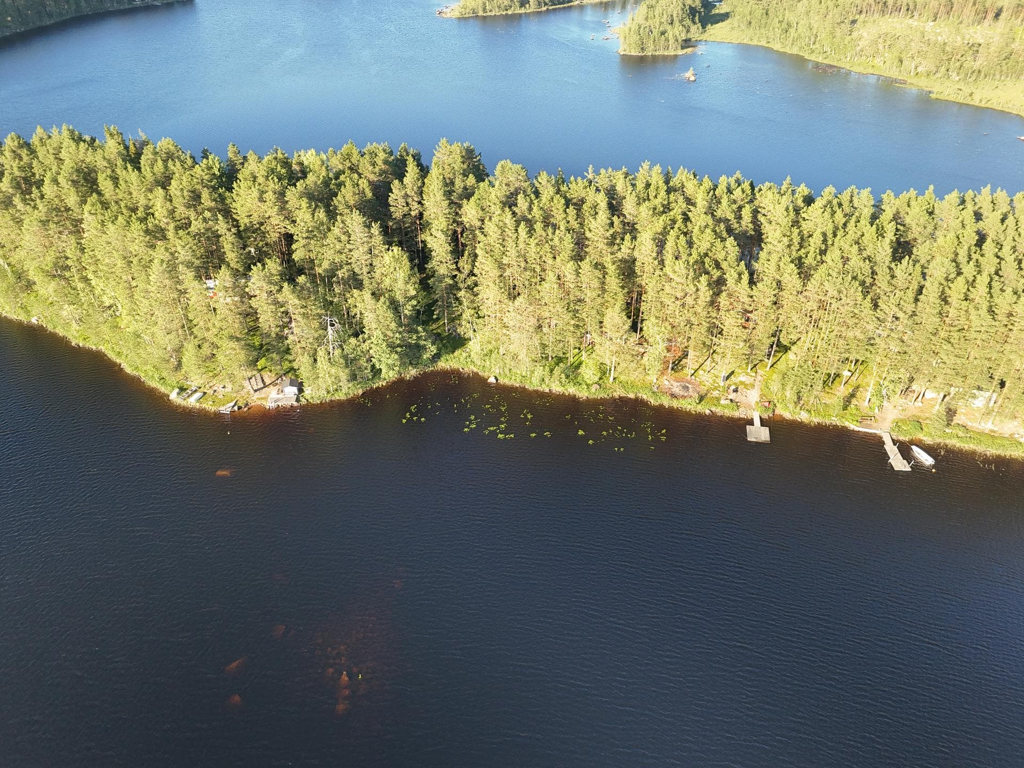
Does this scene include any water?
Yes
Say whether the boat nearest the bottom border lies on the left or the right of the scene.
right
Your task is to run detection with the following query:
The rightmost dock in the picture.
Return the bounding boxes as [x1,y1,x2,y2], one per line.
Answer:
[881,432,914,472]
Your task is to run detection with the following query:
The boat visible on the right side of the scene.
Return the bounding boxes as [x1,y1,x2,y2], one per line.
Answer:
[910,444,938,467]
